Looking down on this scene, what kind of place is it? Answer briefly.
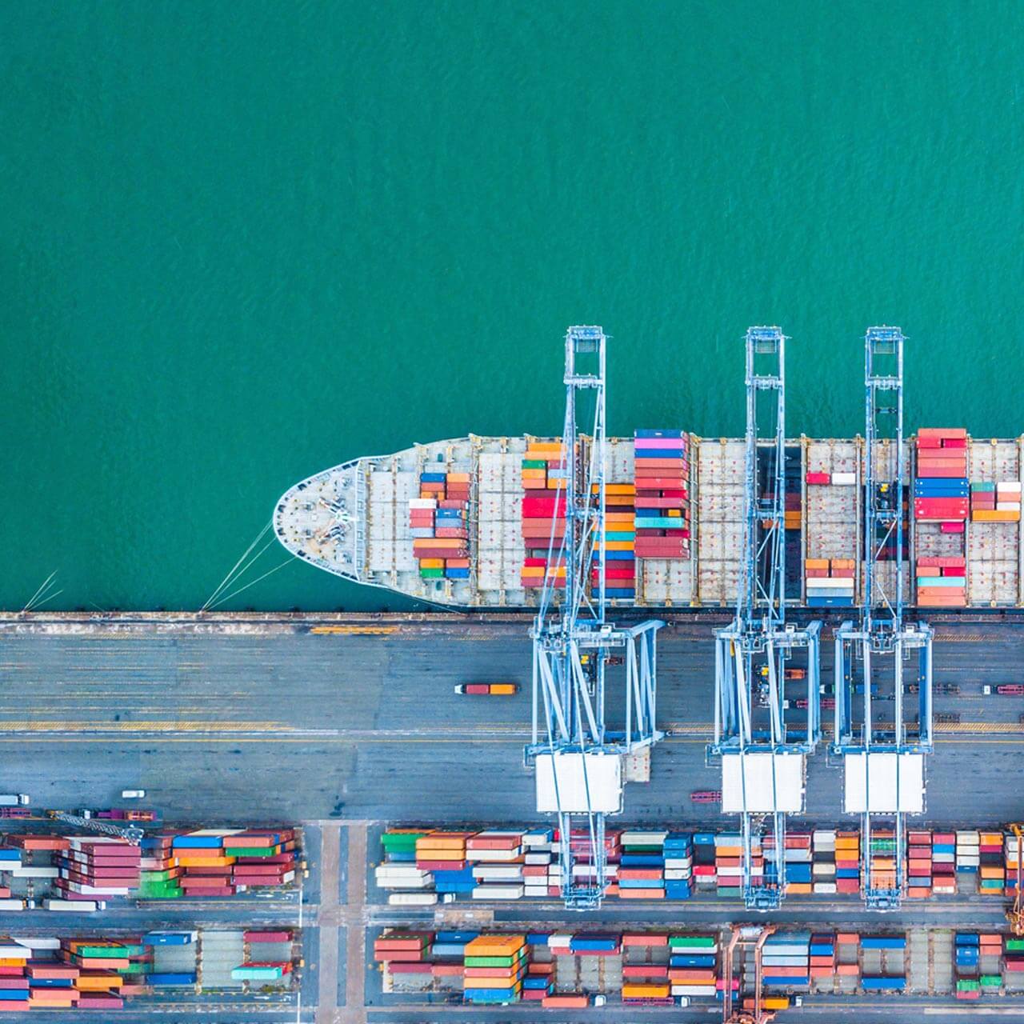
port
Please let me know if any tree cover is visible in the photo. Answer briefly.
No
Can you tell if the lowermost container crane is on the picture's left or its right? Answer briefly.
right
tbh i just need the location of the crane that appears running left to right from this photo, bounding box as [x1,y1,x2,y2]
[35,810,144,845]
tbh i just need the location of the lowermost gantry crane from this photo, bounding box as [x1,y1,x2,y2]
[720,928,776,1024]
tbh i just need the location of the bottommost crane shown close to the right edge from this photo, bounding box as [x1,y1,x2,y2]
[1004,823,1024,945]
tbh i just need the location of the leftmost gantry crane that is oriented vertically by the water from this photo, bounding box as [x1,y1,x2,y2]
[524,321,671,910]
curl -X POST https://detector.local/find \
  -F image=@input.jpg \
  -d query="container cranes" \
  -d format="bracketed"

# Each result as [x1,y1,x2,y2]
[828,321,941,910]
[720,928,776,1024]
[524,321,671,910]
[1004,823,1024,945]
[705,321,830,910]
